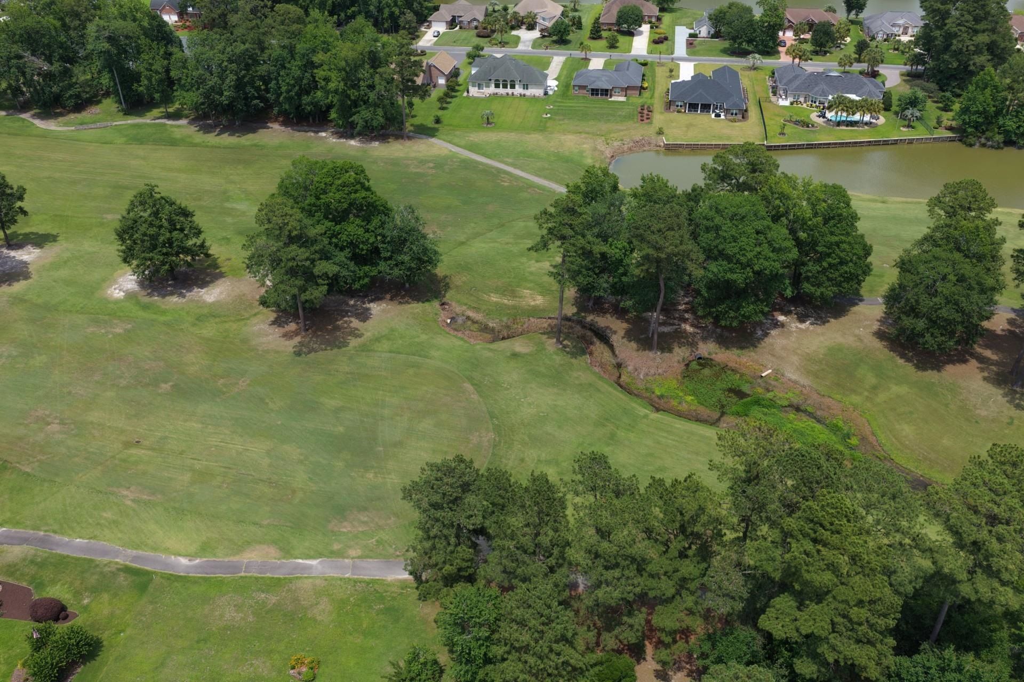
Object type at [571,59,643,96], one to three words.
house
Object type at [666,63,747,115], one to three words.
house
